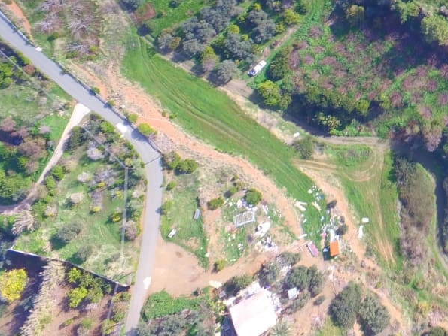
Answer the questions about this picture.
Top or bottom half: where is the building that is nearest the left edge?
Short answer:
bottom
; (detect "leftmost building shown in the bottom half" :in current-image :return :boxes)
[233,284,286,336]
